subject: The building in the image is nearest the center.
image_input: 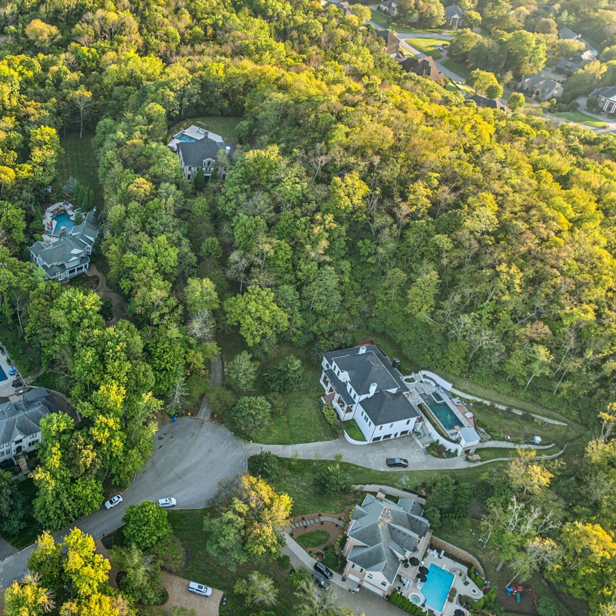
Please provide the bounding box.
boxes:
[321,344,422,445]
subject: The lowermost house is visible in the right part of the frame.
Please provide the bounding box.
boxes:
[340,486,430,606]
